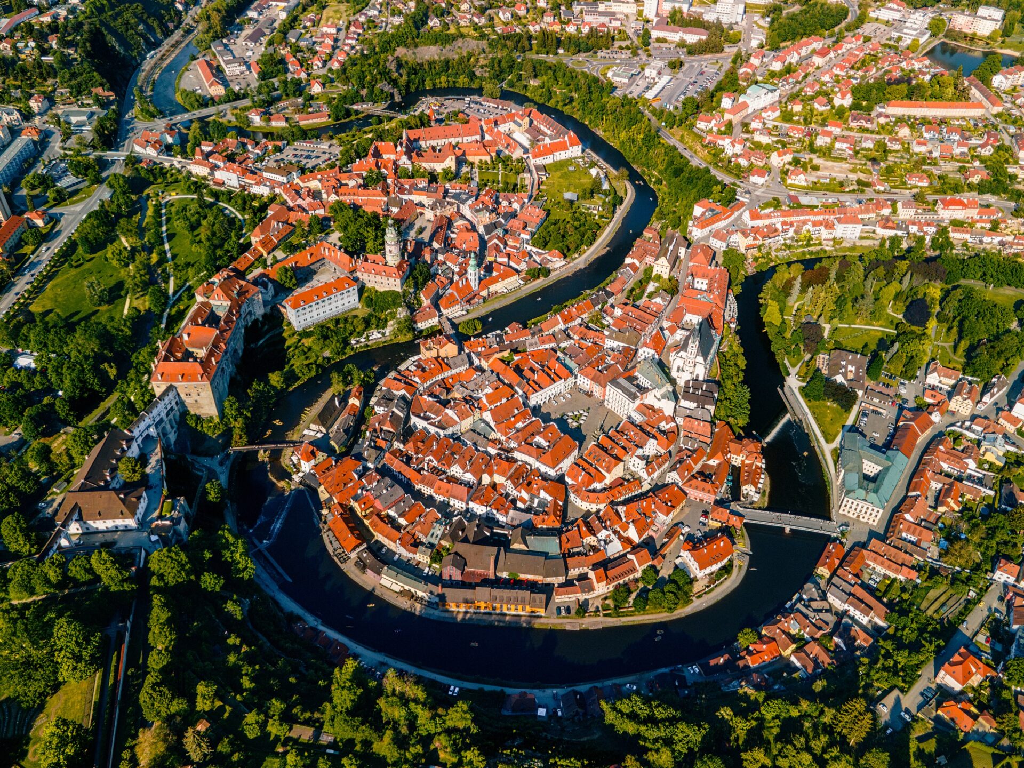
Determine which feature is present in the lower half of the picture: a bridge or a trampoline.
bridge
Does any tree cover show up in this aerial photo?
Yes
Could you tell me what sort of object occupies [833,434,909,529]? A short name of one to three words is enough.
building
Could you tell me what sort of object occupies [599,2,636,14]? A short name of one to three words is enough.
house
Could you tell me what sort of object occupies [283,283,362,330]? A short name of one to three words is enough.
building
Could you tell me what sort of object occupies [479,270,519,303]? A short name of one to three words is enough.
house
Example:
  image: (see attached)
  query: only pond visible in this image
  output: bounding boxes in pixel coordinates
[923,42,1024,75]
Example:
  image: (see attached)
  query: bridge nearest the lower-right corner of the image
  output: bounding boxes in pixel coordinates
[740,507,851,540]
